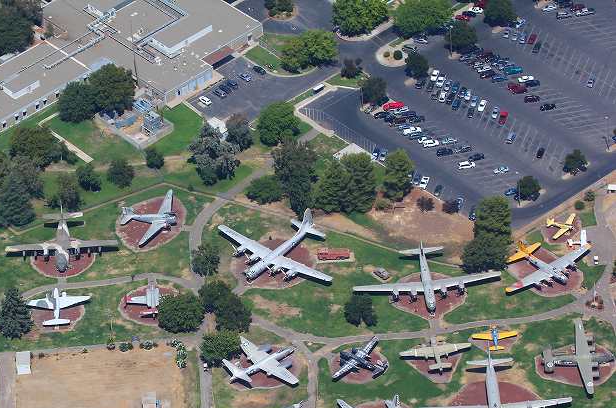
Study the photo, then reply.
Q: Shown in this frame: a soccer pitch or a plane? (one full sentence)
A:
It is a plane that can be seen here.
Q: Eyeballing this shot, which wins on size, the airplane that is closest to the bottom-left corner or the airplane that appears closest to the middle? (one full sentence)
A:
The airplane that is closest to the bottom-left corner is smaller than the airplane that appears closest to the middle.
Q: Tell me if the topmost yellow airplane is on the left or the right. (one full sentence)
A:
The topmost yellow airplane is on the right side of the image.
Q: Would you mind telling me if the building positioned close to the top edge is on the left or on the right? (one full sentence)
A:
The building positioned close to the top edge appears in the left half of the scene.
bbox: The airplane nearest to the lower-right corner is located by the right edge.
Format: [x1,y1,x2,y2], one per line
[543,317,615,390]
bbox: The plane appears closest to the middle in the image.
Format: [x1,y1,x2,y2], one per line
[218,214,332,283]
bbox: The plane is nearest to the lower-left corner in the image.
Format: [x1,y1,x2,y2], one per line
[27,287,91,322]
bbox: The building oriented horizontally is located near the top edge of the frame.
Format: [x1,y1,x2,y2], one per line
[0,0,263,134]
